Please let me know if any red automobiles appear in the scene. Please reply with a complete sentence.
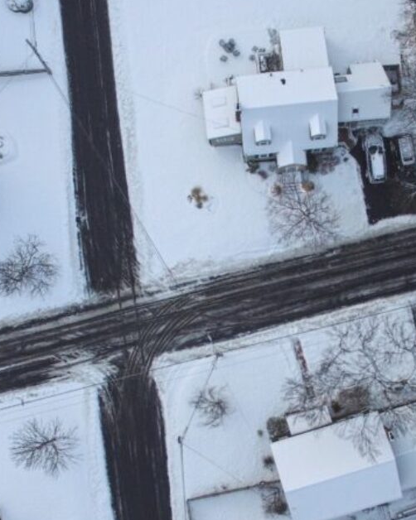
No, there is no red automobile in the image.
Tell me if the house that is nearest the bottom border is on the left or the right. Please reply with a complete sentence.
It is on the right.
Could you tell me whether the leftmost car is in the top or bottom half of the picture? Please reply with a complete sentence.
It is in the top half that the leftmost car appears.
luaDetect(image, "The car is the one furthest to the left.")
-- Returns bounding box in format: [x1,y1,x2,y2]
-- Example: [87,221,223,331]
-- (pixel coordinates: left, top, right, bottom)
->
[362,135,389,187]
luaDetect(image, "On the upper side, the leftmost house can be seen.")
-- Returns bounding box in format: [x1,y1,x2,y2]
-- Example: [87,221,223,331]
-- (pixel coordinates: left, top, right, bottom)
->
[203,26,389,183]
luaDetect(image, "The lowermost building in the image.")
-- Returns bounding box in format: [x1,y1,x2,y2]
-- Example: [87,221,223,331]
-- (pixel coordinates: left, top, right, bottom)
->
[270,402,416,520]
